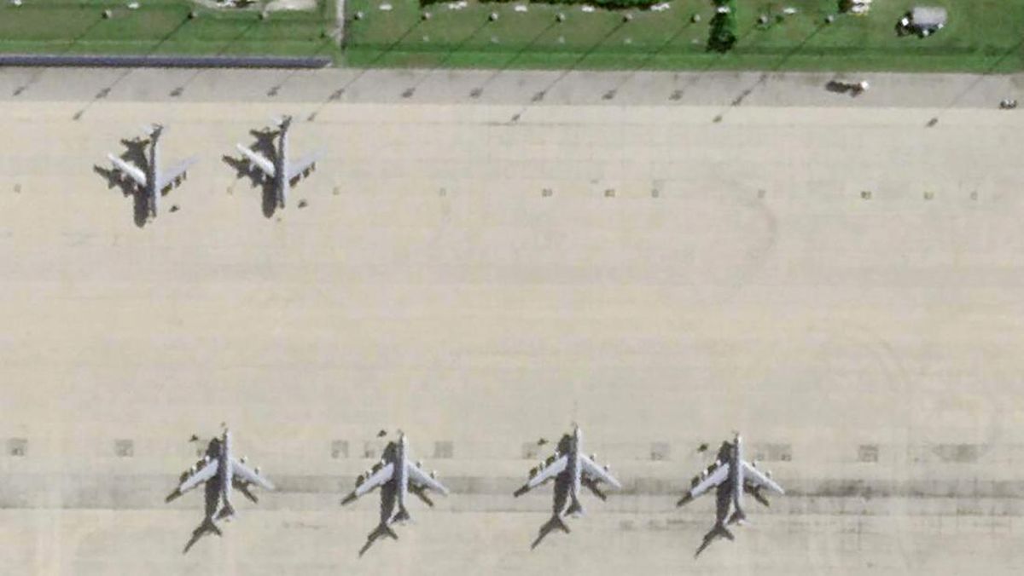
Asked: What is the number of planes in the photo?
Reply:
6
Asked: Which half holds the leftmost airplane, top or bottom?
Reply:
top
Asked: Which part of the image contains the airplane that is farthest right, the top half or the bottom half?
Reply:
bottom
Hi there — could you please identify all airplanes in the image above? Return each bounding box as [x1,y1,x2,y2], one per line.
[693,435,786,524]
[181,431,274,520]
[108,125,201,217]
[357,435,450,524]
[531,427,624,519]
[237,116,330,207]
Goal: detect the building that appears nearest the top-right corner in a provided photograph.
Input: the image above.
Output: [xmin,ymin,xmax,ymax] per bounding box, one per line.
[910,7,946,25]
